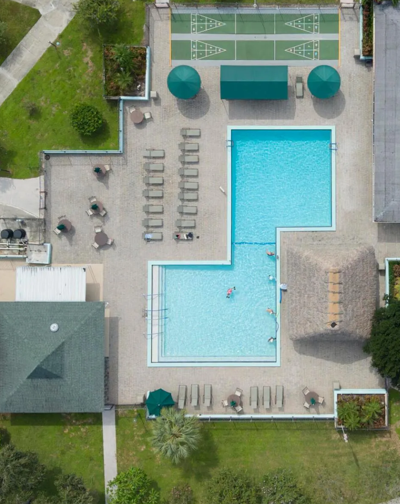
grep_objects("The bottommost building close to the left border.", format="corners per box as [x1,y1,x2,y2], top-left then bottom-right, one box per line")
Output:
[0,267,107,413]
